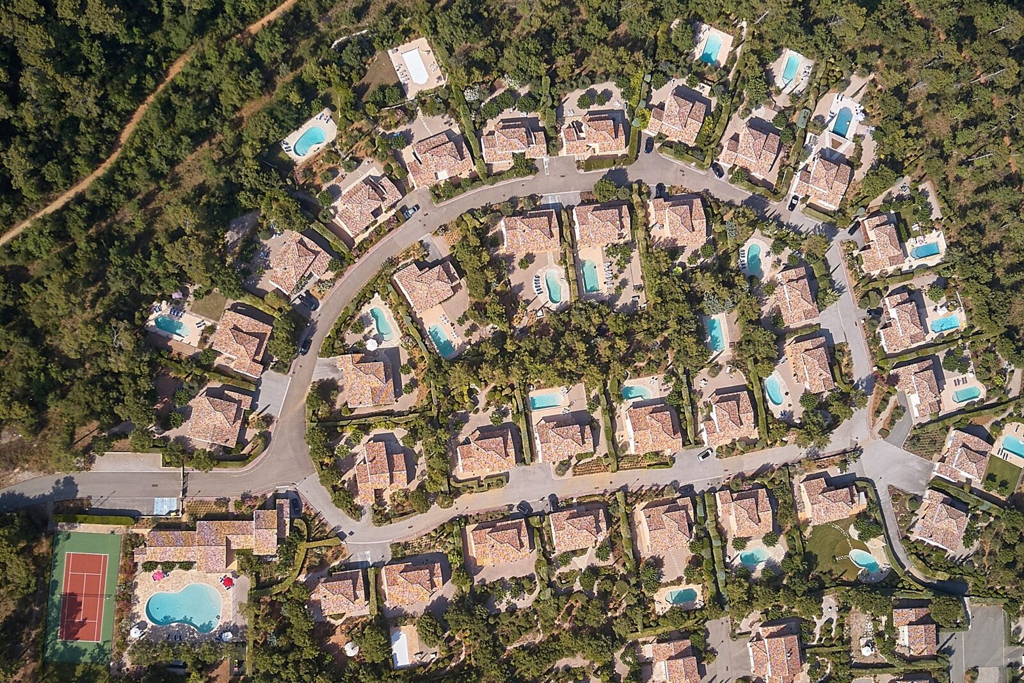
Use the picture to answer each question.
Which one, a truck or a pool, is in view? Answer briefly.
pool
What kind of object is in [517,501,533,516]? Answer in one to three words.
car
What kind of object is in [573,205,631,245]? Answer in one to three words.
house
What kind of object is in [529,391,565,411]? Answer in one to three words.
swimming pool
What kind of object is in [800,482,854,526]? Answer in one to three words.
house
